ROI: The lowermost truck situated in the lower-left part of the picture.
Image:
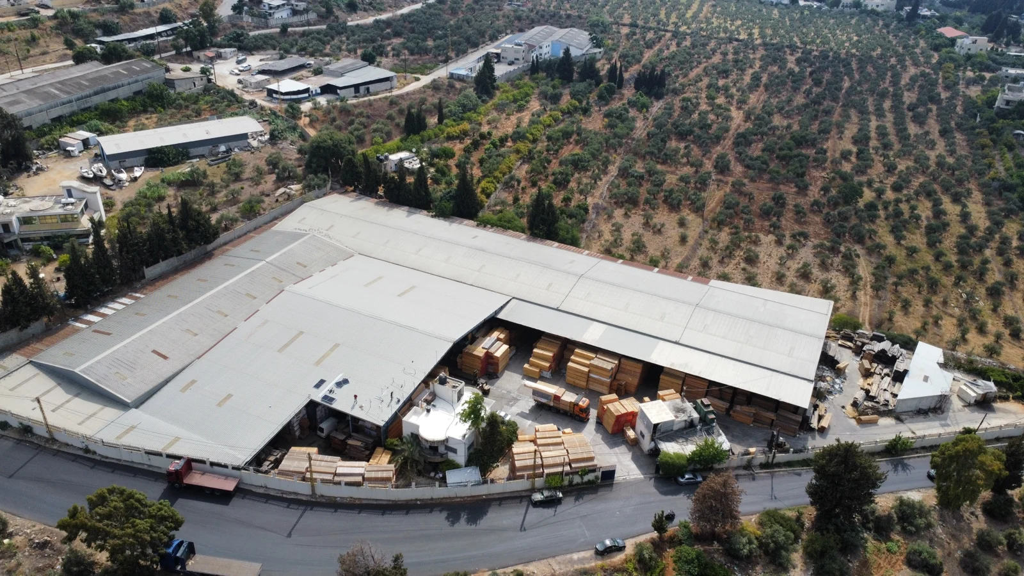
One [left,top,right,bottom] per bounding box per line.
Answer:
[164,542,261,576]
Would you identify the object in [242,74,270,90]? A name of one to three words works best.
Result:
house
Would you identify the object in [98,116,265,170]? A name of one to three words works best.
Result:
shed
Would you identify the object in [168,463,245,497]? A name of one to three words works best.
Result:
truck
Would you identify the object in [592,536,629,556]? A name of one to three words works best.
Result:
car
